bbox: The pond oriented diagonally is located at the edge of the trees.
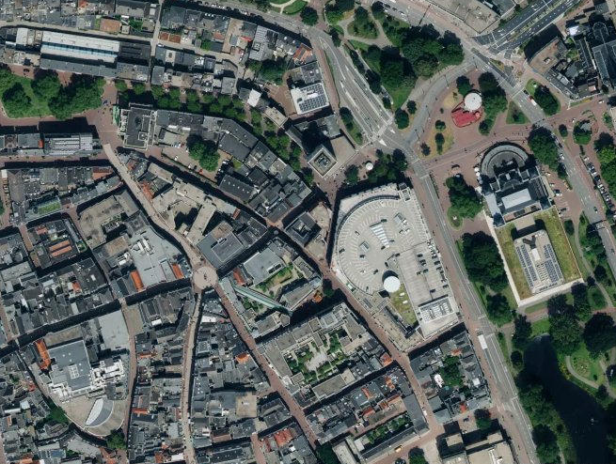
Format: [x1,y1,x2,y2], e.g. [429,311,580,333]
[523,335,616,464]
